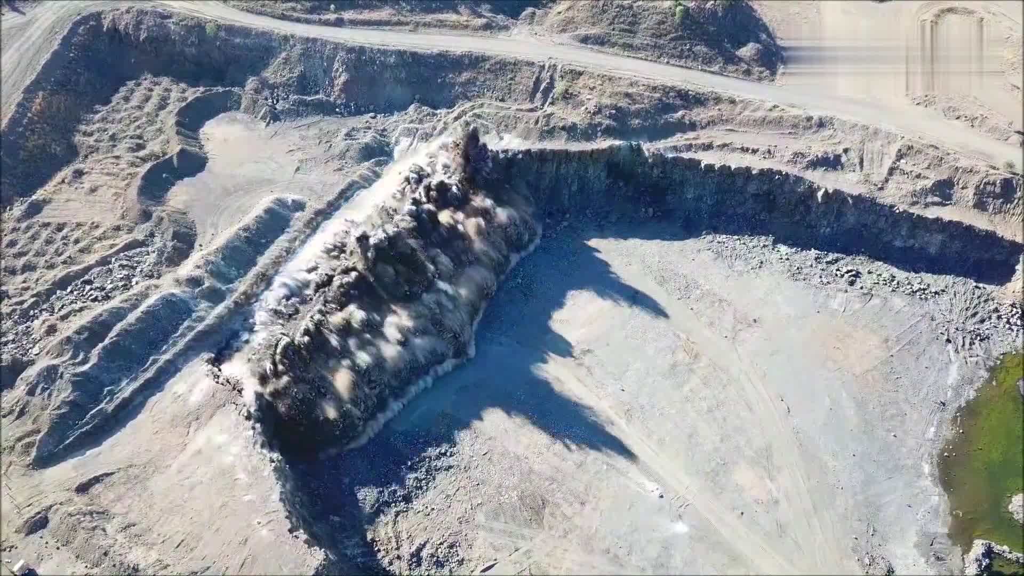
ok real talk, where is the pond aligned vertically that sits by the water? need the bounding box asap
[947,365,1024,576]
